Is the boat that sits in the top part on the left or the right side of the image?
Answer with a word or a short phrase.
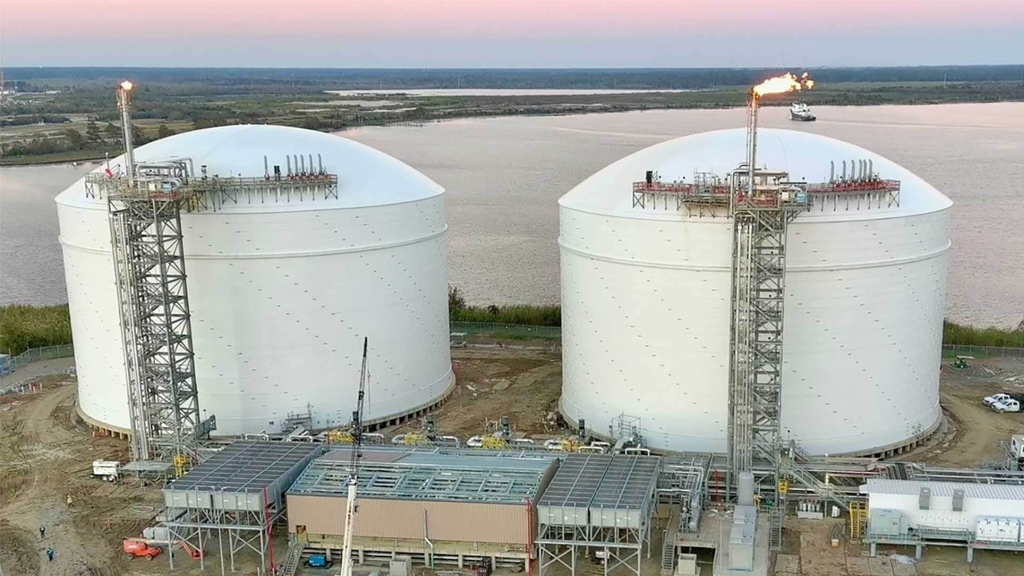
right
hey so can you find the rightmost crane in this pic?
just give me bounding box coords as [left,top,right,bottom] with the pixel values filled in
[337,336,377,576]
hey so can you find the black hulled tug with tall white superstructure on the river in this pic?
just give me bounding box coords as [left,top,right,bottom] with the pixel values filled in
[791,98,817,120]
